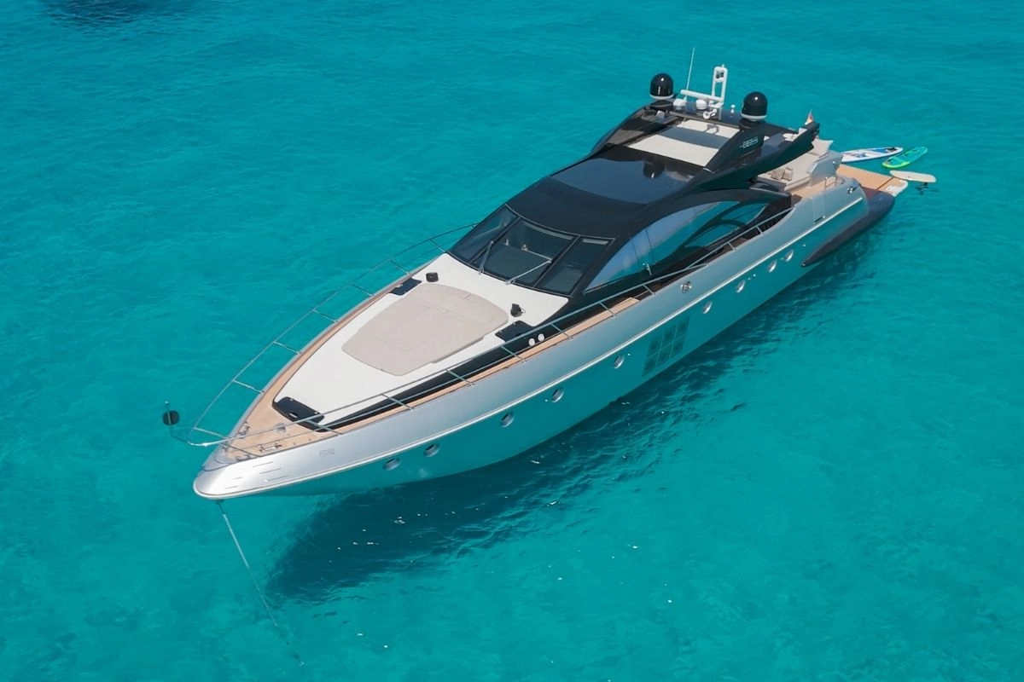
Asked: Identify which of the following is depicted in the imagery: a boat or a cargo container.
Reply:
boat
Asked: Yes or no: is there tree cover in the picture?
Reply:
No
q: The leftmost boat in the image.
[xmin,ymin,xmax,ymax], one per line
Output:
[163,48,905,507]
